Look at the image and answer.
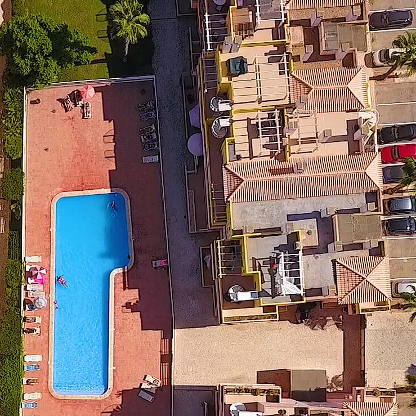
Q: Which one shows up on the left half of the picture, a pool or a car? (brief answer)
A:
pool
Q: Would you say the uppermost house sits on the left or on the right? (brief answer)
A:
right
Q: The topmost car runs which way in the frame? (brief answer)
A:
from left to right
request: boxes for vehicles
[381,163,416,183]
[385,194,416,214]
[393,280,416,297]
[380,143,416,163]
[381,122,416,144]
[368,8,413,31]
[374,46,414,68]
[386,215,416,235]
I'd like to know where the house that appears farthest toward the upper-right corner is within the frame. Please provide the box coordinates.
[176,0,382,178]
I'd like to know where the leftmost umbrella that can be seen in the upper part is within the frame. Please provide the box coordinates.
[79,86,96,102]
